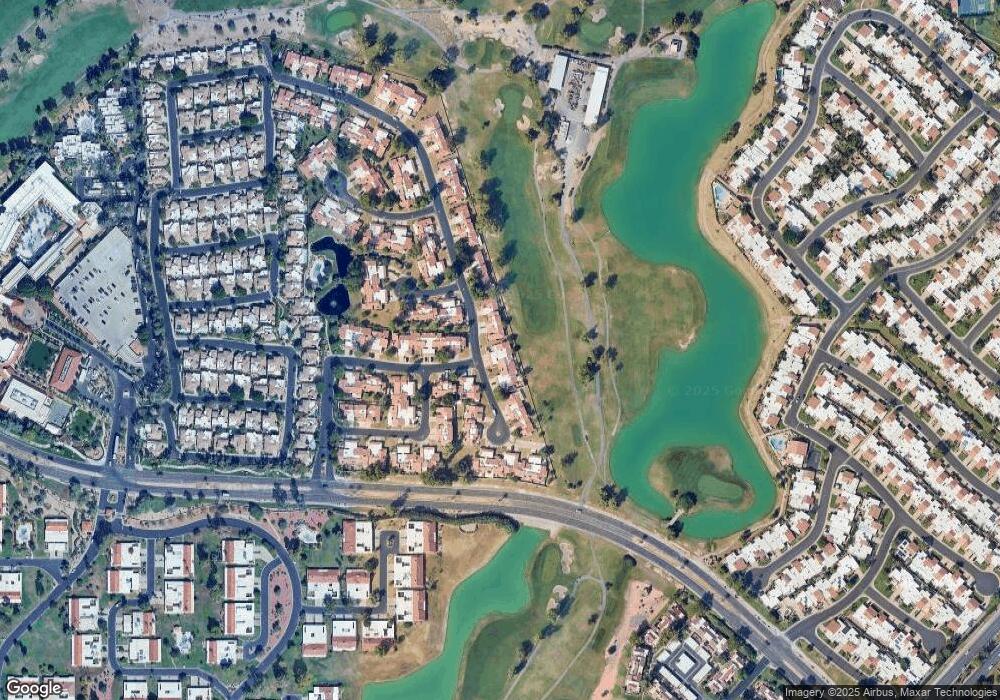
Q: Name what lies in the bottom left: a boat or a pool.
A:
pool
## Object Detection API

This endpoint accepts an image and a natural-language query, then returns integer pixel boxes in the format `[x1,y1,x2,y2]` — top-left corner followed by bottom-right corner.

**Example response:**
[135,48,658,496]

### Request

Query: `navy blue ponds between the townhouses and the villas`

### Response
[309,236,353,317]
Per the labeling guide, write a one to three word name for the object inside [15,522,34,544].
swimming pool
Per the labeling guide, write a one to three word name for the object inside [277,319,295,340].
swimming pool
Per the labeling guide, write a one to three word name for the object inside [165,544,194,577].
building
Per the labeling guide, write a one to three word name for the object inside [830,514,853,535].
house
